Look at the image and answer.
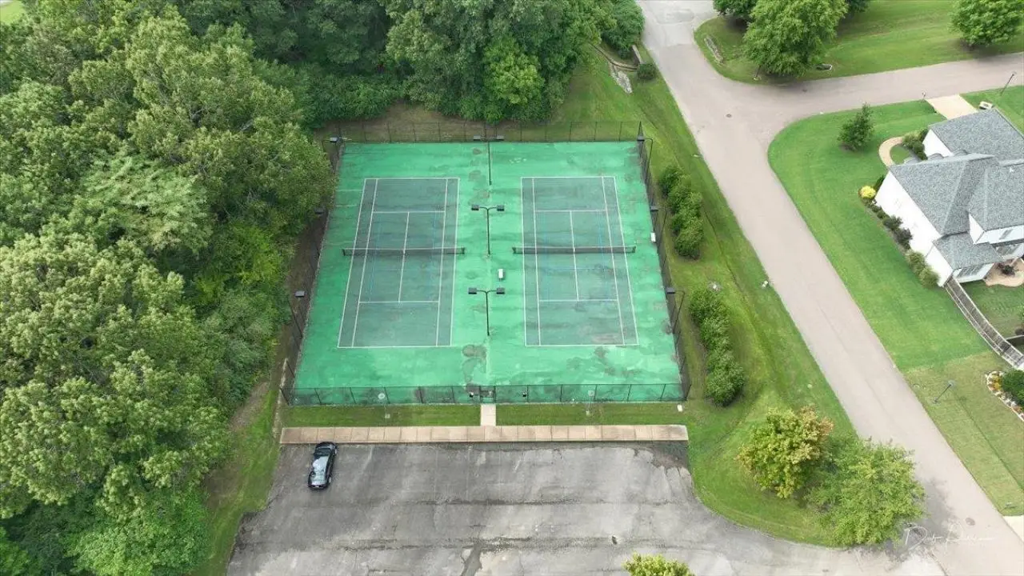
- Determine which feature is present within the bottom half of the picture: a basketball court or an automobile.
automobile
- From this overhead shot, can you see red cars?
No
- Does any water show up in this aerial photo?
No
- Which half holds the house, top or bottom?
top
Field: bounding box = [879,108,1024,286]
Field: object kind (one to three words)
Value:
house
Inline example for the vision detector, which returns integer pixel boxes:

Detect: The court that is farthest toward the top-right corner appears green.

[488,140,685,403]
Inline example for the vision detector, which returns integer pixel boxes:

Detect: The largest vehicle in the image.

[306,441,335,490]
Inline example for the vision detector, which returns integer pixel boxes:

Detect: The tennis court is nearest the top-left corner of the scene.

[289,141,491,405]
